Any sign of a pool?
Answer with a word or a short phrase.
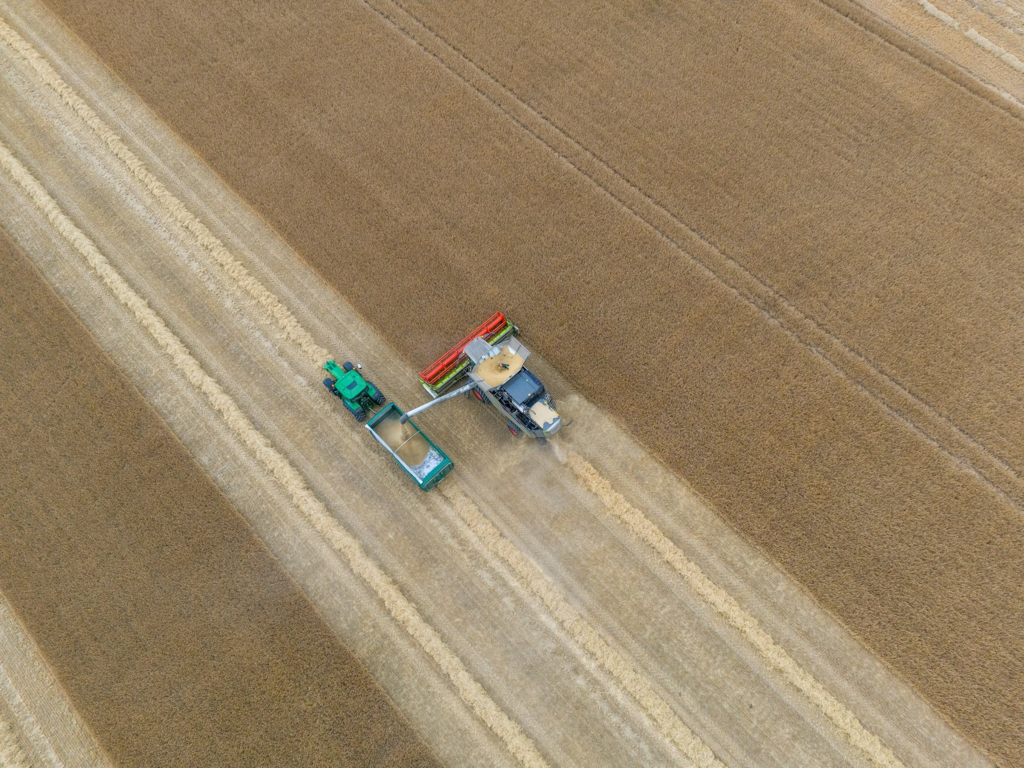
No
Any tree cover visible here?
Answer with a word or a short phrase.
No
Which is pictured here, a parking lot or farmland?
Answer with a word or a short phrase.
farmland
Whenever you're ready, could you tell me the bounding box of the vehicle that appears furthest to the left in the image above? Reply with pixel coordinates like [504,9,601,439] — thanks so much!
[323,361,385,423]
